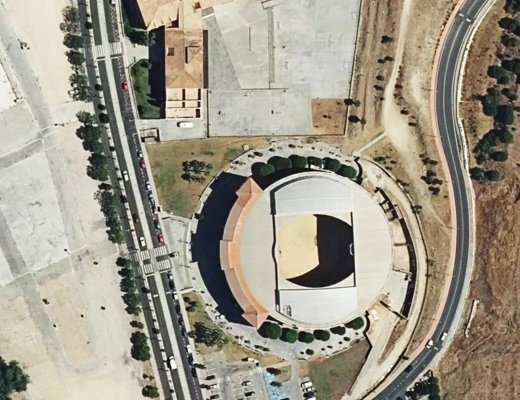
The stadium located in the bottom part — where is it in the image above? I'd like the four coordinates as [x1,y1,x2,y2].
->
[219,171,394,330]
